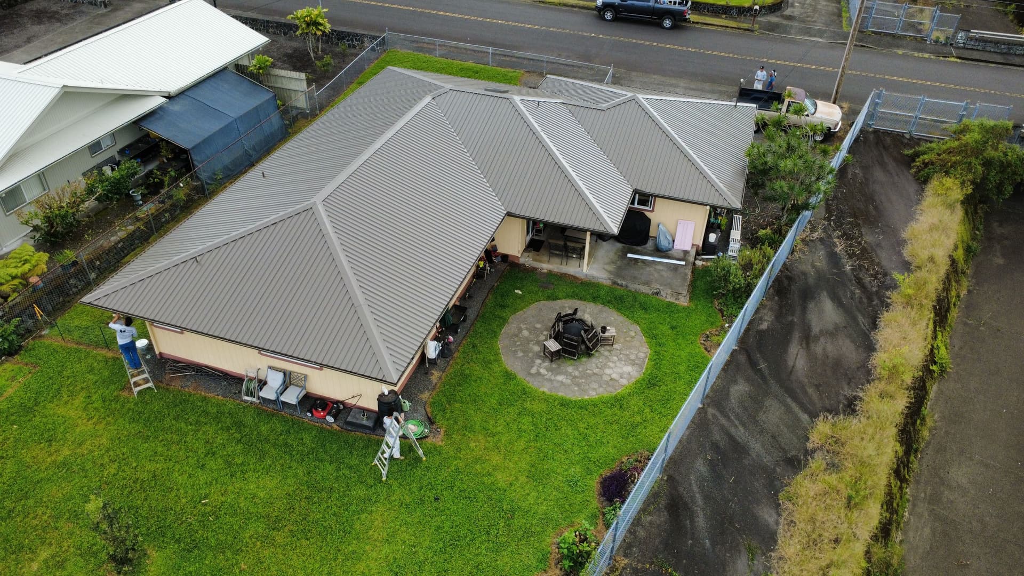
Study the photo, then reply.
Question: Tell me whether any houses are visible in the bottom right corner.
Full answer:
No, I can find no house in the bottom right corner.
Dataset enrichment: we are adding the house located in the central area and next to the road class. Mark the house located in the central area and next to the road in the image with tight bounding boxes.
[77,65,759,412]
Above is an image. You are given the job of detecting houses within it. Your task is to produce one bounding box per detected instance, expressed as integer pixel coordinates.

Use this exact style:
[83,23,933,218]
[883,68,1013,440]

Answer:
[77,65,759,412]
[0,1,272,255]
